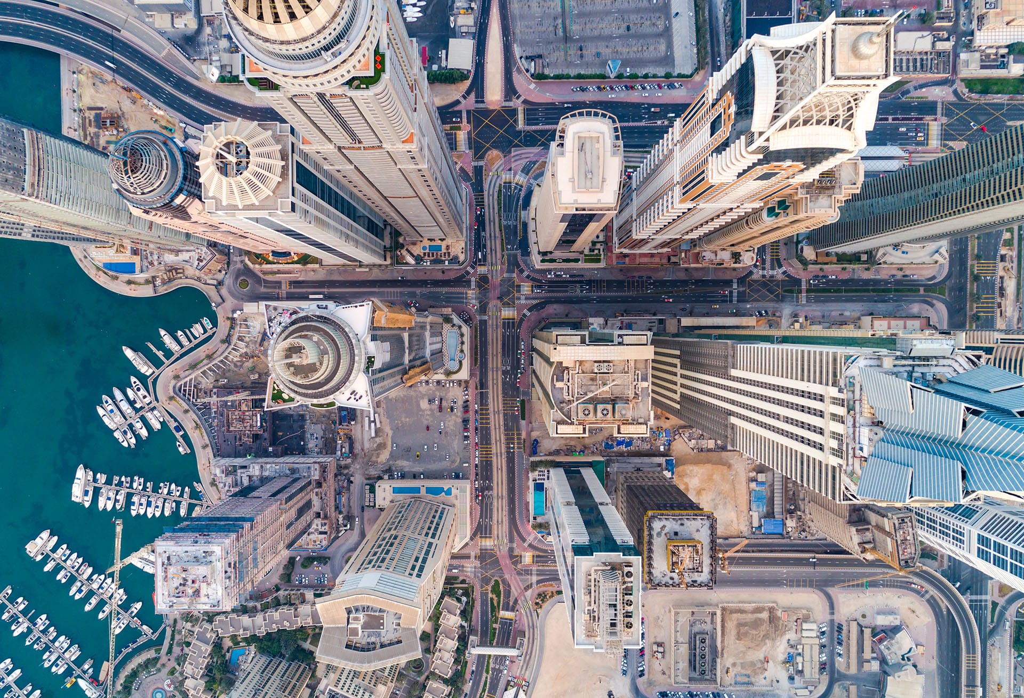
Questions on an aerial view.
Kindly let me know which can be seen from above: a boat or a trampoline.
boat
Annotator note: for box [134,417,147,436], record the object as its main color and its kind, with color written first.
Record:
white boat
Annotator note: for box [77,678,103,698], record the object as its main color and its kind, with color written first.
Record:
white boat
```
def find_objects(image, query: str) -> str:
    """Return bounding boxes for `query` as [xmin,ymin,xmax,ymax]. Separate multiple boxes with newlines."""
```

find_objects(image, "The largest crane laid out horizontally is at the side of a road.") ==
[834,543,926,588]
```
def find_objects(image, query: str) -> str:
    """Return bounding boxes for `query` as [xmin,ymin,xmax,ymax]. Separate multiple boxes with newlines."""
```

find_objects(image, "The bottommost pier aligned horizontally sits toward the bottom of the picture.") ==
[88,476,207,519]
